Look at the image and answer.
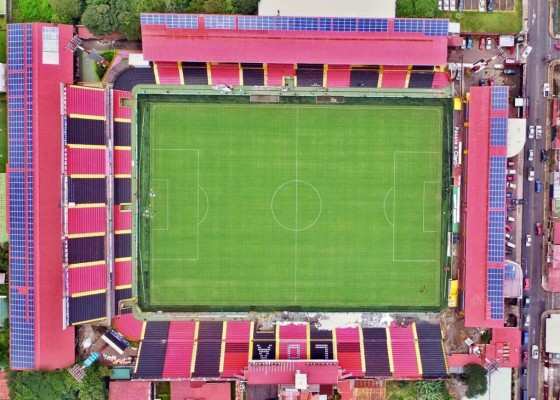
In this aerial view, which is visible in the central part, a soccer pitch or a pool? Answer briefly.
soccer pitch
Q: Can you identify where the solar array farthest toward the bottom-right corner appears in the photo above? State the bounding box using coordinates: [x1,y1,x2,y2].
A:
[488,268,505,320]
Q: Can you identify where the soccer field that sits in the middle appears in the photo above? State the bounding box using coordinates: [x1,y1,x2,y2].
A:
[150,103,444,306]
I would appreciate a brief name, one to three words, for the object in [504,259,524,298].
building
